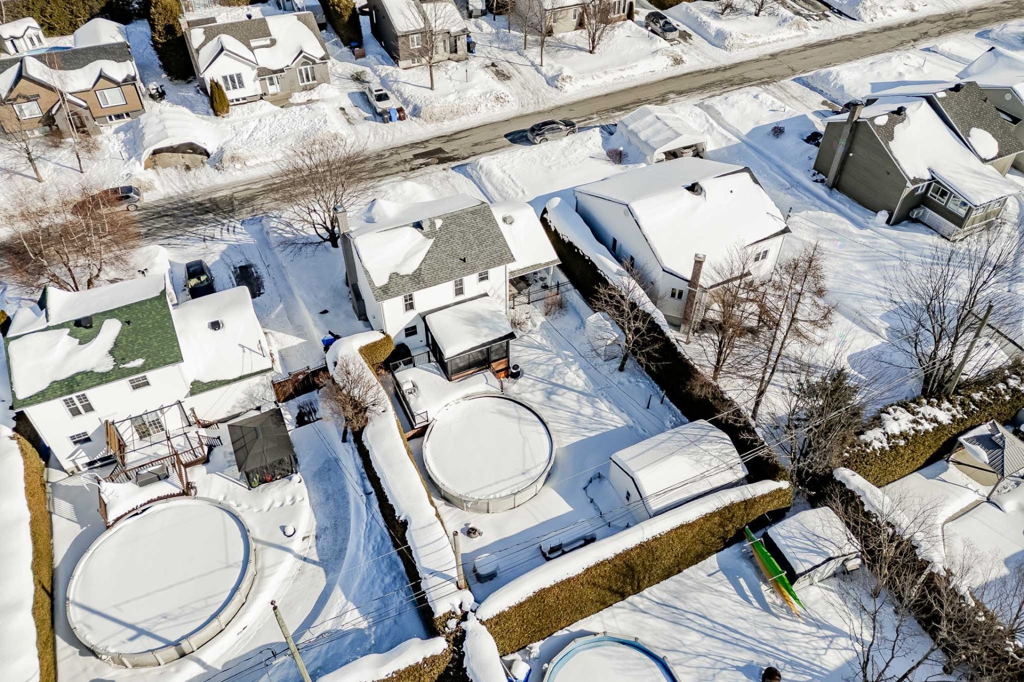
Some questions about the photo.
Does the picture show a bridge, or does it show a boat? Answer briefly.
boat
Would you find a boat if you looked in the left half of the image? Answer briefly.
No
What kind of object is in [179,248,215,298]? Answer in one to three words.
car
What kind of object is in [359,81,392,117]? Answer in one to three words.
car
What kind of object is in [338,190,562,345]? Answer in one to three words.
house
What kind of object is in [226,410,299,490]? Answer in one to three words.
gazebo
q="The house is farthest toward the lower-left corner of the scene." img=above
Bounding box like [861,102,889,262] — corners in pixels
[2,270,276,466]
